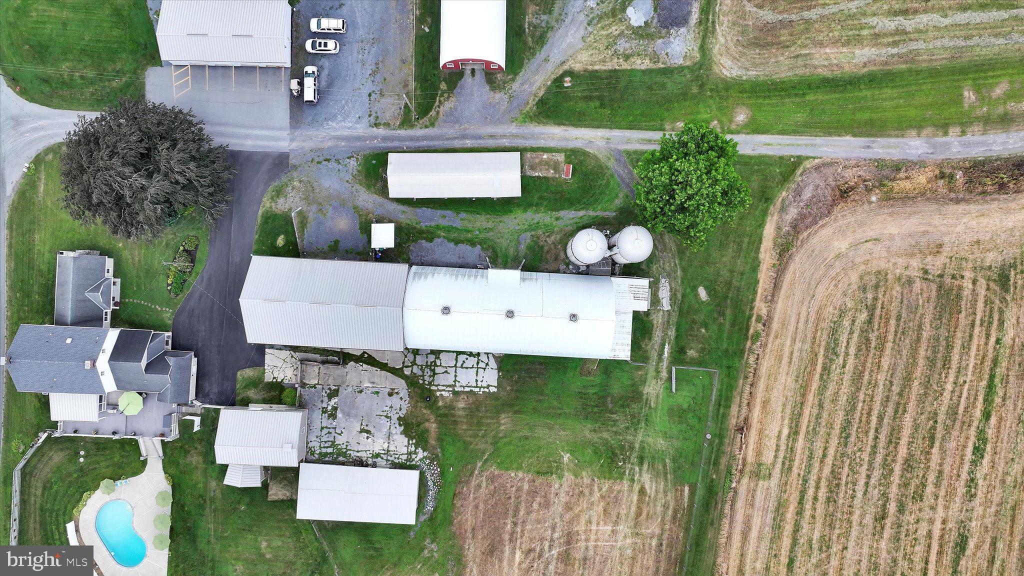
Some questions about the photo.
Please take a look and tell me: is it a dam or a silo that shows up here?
silo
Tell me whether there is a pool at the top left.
No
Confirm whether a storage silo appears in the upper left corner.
No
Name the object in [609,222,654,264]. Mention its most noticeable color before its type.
white silo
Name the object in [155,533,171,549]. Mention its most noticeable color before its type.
green umbrella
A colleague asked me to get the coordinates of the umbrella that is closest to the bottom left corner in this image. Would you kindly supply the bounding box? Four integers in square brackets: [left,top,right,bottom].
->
[101,478,118,494]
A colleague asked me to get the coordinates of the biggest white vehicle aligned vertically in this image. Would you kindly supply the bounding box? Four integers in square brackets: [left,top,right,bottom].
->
[304,70,321,109]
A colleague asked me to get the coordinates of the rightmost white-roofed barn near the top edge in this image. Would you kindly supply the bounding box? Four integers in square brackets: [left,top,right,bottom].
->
[440,0,505,73]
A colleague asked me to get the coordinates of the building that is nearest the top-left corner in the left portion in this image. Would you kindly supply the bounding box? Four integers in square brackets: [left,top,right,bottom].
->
[156,0,292,68]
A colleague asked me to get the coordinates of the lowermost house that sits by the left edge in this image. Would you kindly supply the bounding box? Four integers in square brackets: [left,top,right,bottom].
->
[0,323,200,424]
